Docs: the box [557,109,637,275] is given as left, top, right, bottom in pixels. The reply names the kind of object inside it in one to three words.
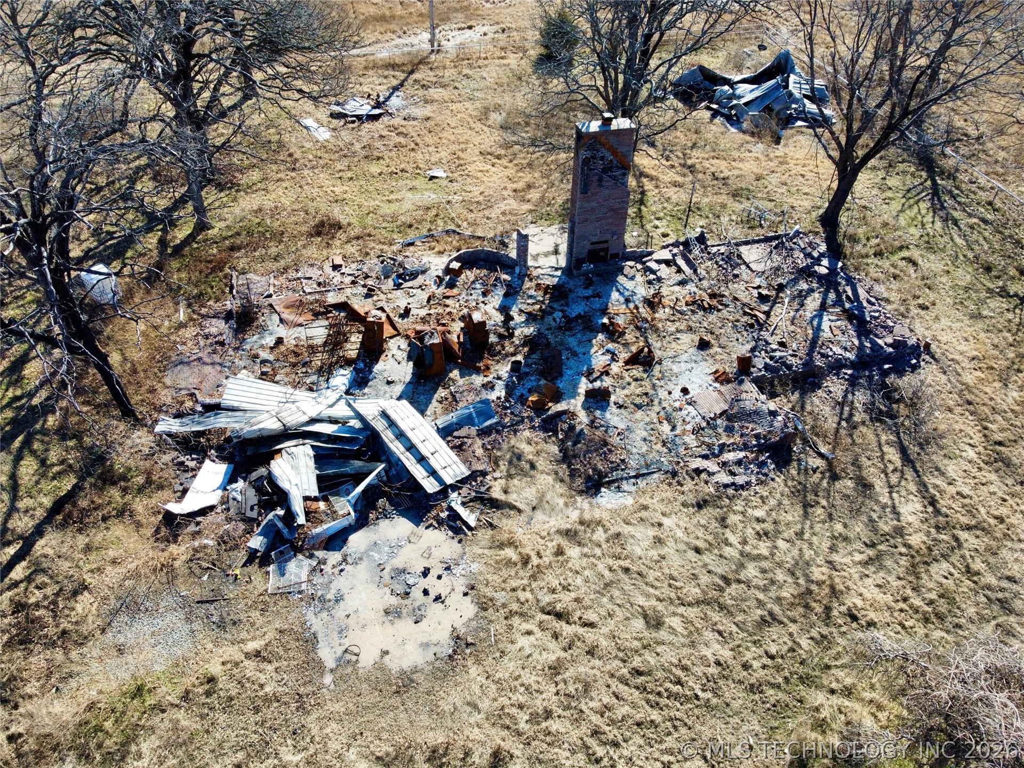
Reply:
chimney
